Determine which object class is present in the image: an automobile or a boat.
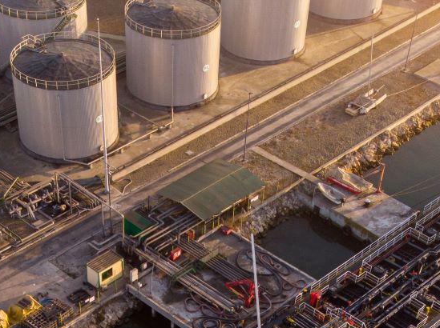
boat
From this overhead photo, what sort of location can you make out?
industrial area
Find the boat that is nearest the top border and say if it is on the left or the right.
right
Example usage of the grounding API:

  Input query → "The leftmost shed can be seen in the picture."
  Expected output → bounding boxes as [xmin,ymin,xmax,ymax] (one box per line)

[86,250,124,288]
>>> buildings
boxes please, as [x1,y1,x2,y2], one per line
[86,250,124,288]
[157,159,265,238]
